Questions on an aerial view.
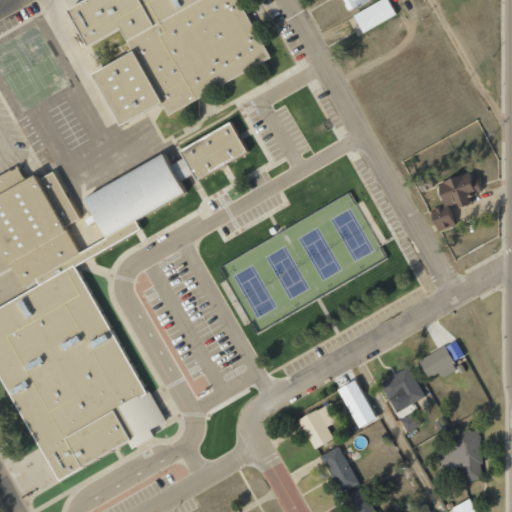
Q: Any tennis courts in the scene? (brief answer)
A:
Yes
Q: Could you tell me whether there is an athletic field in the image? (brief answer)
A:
Yes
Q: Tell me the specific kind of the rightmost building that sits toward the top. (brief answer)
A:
house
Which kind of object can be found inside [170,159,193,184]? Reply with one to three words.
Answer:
building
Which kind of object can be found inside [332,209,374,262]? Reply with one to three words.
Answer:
tennis court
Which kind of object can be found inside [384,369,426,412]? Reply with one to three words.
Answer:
house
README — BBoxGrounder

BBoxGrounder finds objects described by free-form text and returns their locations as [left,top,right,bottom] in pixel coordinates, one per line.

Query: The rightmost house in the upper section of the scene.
[431,172,482,232]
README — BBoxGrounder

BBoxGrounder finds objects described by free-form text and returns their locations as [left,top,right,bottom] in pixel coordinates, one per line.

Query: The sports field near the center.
[224,193,387,333]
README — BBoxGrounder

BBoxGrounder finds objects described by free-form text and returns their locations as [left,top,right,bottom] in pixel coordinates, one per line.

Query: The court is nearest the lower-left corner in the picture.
[235,266,276,318]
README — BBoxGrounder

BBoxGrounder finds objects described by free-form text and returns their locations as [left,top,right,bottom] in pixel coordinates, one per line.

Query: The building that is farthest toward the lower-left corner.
[0,266,148,482]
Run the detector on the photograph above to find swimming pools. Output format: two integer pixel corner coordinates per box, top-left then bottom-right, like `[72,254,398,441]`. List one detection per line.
[354,436,368,450]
